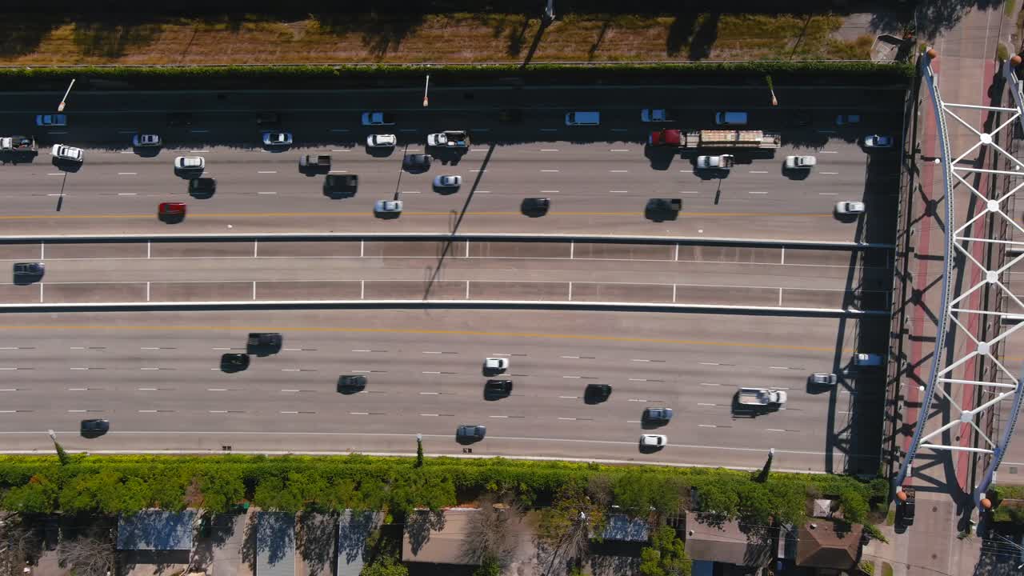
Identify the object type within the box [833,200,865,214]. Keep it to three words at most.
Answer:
car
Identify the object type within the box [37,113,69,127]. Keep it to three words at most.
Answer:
vehicle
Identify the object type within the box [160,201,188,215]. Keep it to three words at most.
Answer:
car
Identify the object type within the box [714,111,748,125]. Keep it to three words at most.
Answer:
vehicle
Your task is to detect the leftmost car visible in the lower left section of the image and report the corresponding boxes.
[82,419,111,432]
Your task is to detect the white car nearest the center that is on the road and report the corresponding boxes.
[486,358,509,370]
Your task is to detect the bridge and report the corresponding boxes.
[880,48,1024,507]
